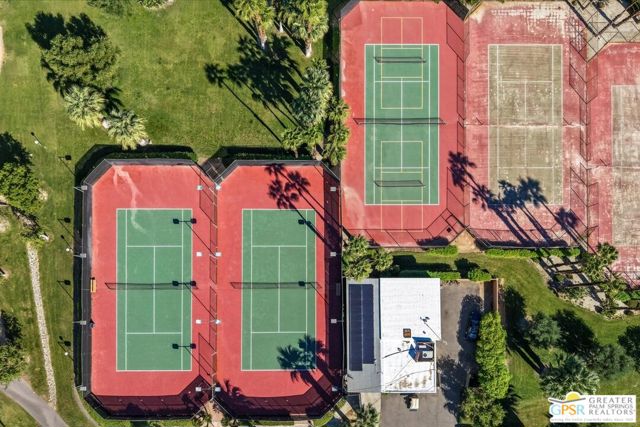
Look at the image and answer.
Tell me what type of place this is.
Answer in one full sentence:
It's a sports ground.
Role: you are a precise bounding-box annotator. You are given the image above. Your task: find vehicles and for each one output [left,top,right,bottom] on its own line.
[411,398,421,413]
[467,311,481,341]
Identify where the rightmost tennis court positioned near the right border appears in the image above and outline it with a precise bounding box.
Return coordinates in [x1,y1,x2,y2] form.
[587,43,640,287]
